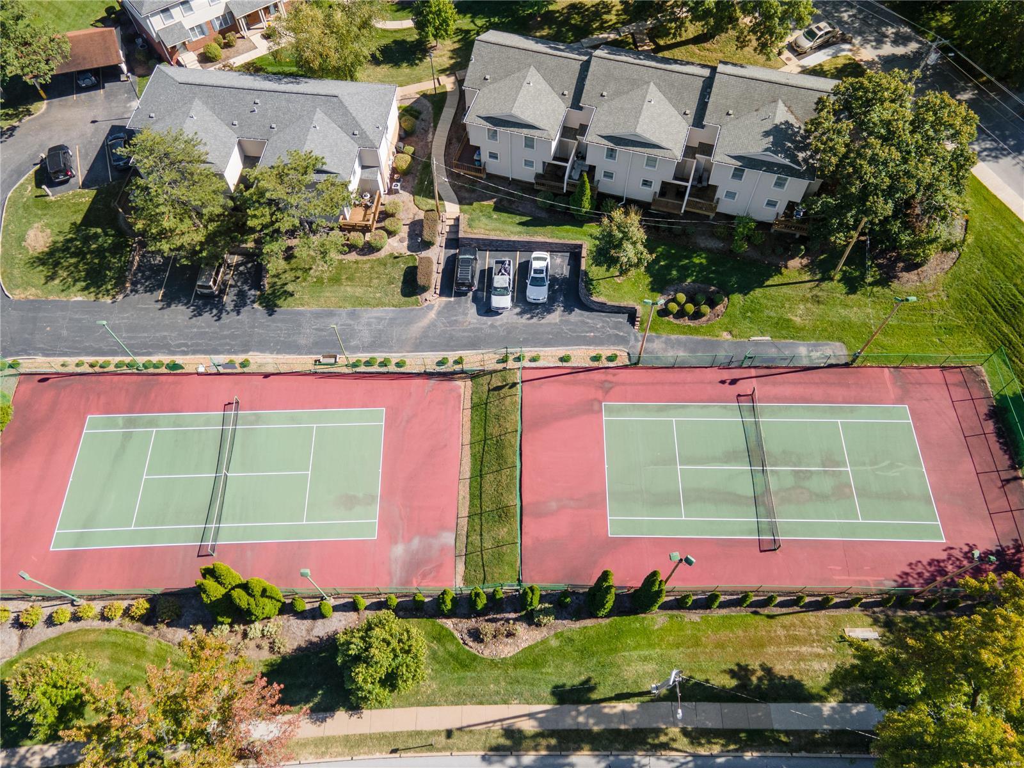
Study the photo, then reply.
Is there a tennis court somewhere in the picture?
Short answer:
Yes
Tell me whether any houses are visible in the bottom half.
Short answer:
No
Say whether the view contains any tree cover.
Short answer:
Yes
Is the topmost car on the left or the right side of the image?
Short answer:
right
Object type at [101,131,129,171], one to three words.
car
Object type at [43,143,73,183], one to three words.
car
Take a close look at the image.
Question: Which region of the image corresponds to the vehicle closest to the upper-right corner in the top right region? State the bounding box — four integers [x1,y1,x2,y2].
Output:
[794,25,841,55]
